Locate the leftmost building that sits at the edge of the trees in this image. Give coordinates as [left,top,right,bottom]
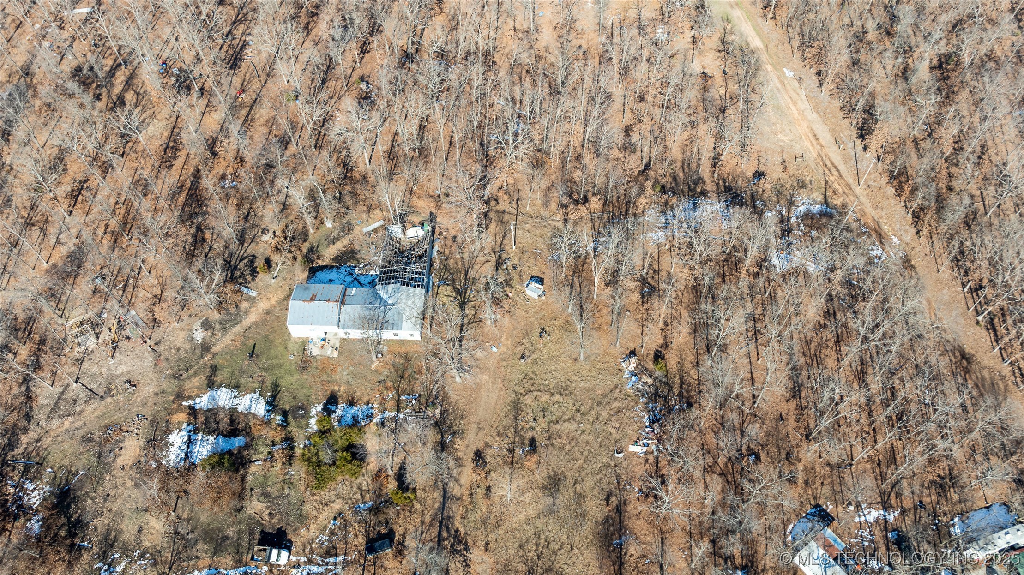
[285,224,435,340]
